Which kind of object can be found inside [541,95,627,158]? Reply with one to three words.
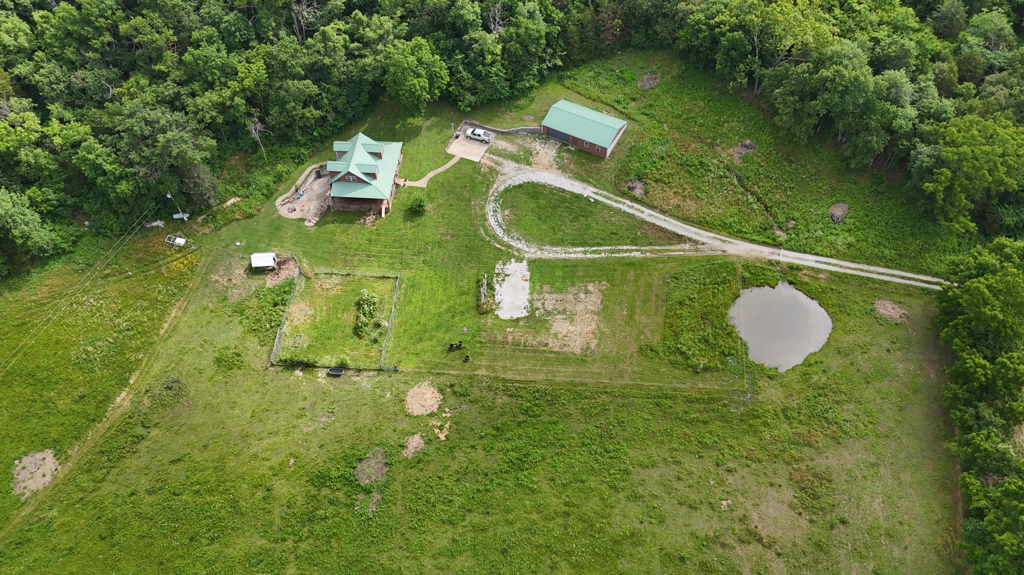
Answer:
barn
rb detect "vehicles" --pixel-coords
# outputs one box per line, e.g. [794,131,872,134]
[463,130,492,145]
